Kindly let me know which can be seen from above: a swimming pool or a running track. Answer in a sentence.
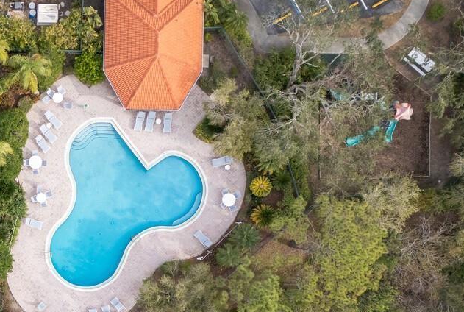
Looking from above, you can make out a swimming pool.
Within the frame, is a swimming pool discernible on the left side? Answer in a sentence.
Yes, a swimming pool shows up on the left side.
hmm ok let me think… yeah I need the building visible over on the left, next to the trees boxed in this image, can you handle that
[102,0,204,111]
